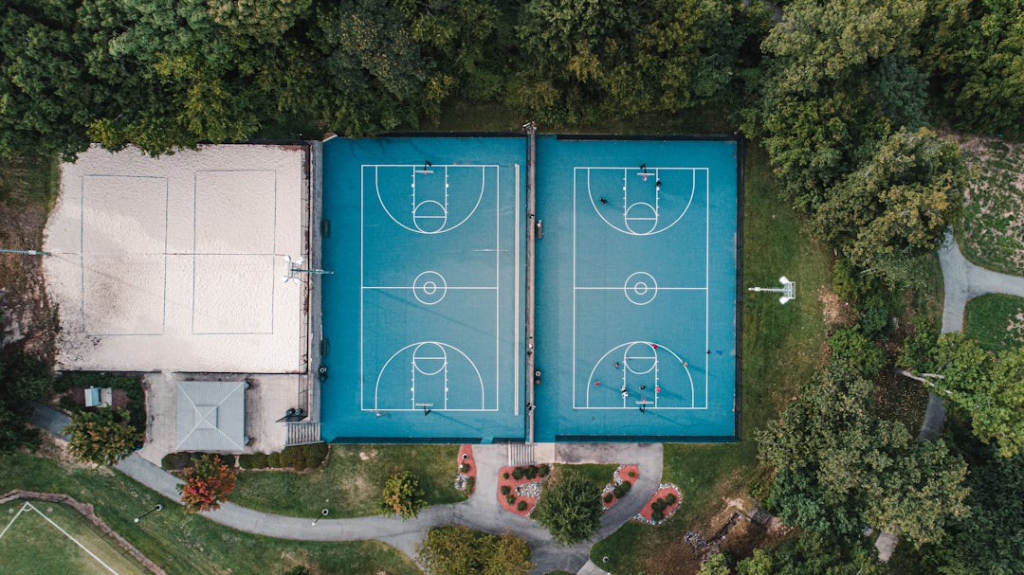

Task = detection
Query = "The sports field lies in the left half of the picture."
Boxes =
[0,497,146,575]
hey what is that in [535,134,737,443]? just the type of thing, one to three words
basketball court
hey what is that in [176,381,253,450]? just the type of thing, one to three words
building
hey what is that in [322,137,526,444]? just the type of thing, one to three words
basketball court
